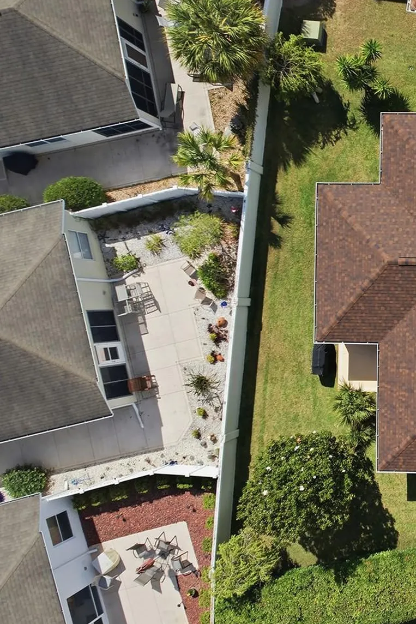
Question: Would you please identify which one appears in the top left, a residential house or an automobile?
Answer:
residential house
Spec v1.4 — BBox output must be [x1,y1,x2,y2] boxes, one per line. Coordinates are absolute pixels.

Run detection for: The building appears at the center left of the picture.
[0,202,142,442]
